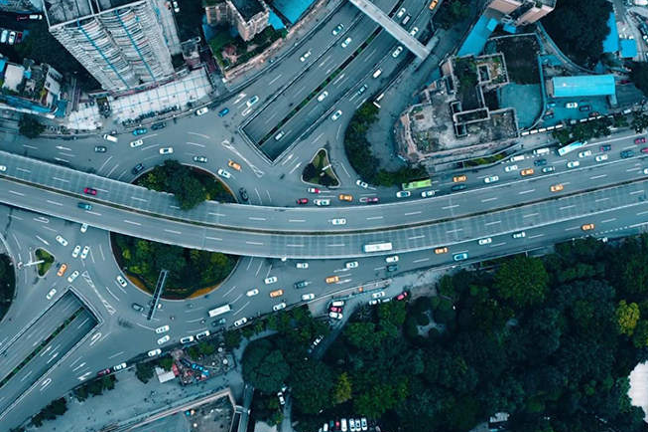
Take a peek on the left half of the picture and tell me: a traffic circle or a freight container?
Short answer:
traffic circle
